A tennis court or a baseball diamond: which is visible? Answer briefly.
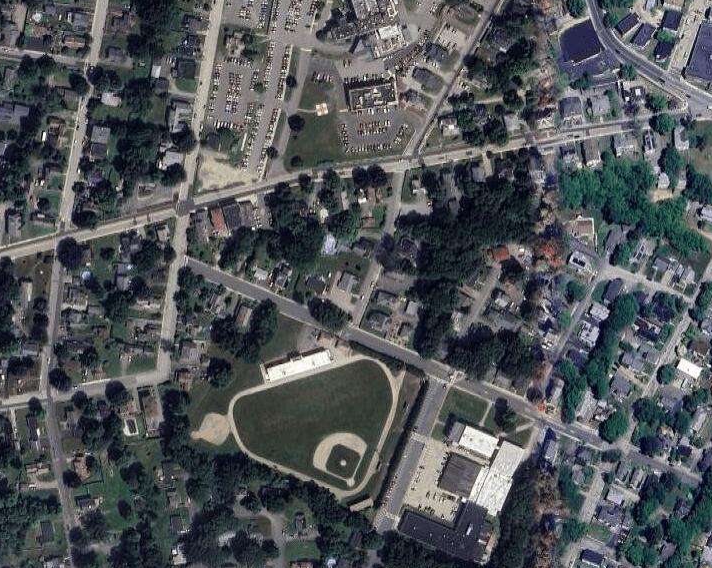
baseball diamond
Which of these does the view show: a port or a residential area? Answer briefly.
residential area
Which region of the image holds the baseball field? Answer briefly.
bottom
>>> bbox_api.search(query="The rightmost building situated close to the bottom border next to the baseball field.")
[399,423,523,565]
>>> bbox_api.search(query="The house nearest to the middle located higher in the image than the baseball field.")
[337,269,358,293]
